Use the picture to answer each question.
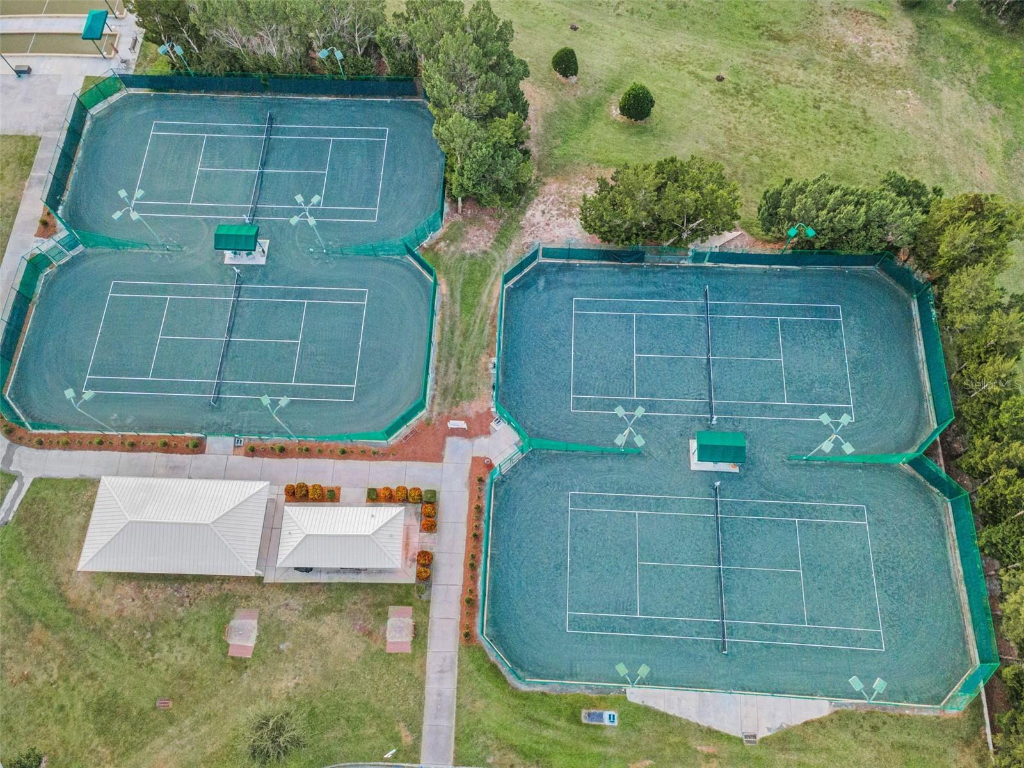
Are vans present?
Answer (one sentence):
No, there is no van in the image.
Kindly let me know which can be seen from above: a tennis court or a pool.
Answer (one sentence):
The one in the frame is a tennis court.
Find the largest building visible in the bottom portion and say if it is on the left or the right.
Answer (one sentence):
The largest building visible in the bottom portion sits on the left side.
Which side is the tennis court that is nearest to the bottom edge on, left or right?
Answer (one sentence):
The tennis court that is nearest to the bottom edge sits on the right side.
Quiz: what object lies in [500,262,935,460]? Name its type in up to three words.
tennis court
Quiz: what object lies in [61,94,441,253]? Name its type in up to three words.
tennis court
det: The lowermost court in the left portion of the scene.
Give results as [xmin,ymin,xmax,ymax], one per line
[9,247,433,436]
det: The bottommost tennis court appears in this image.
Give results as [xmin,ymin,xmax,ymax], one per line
[485,448,976,704]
